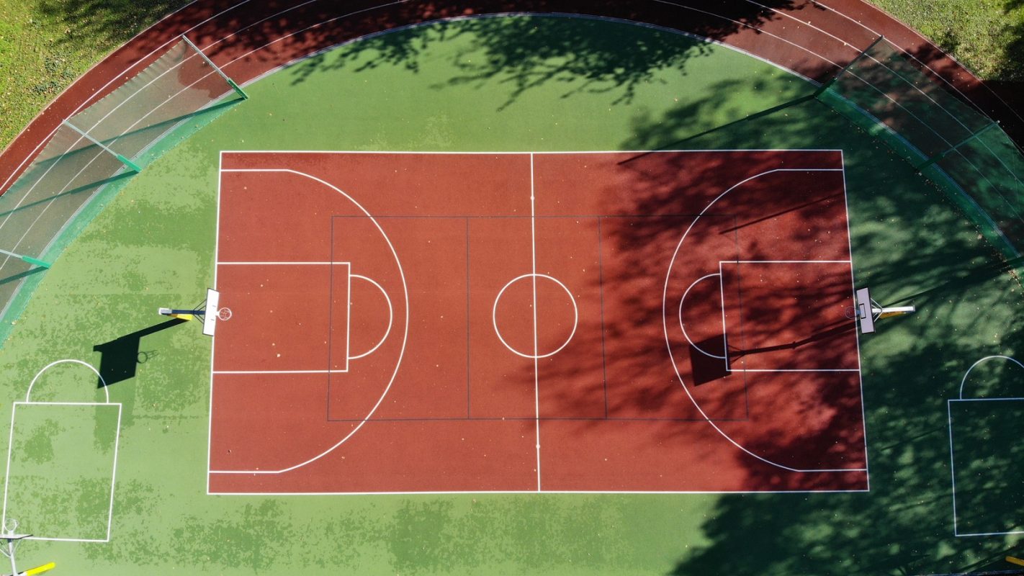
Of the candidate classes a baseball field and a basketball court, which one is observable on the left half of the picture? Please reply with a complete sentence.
The one visible on the left half of the picture is a basketball court.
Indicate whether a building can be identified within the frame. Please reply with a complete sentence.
No, no building is visible in the view.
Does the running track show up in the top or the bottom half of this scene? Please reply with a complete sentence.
It is in the top half that the running track appears.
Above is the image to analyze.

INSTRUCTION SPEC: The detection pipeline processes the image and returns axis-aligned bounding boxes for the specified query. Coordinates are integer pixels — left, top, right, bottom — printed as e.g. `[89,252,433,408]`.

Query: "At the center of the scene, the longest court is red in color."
[207,150,870,495]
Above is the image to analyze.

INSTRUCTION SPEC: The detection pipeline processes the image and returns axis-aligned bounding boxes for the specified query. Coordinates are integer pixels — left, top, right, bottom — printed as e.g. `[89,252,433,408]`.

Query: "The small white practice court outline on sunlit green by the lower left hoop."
[1,361,121,542]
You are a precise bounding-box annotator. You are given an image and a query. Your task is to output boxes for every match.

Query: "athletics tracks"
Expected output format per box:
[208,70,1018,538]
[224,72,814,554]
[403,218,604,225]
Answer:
[0,0,1024,321]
